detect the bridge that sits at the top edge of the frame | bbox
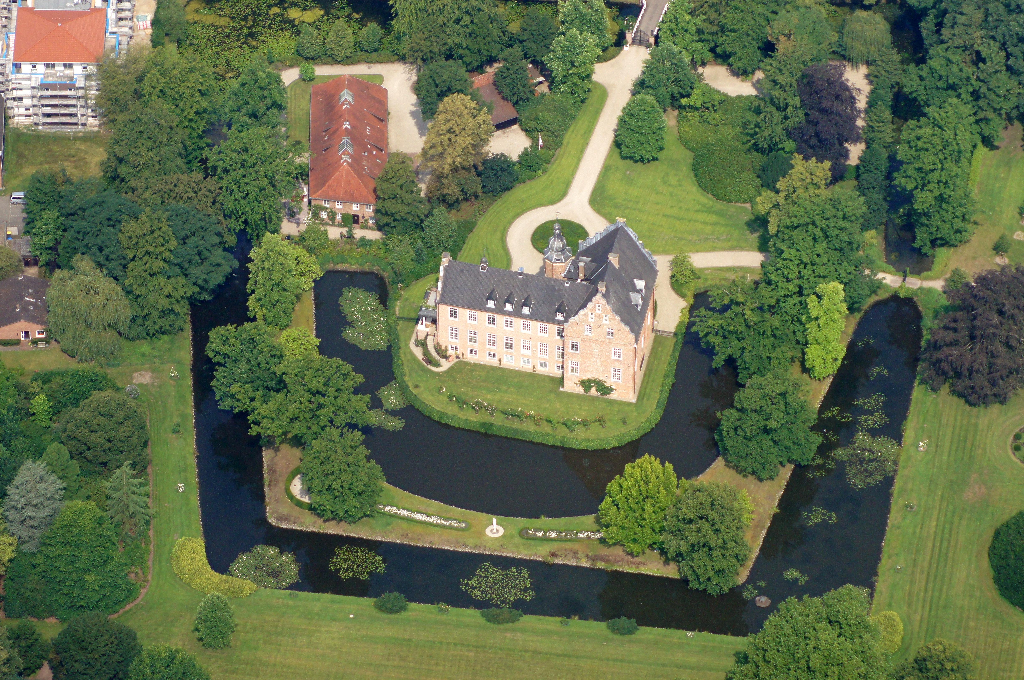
[629,0,675,44]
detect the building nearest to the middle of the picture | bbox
[417,211,659,398]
